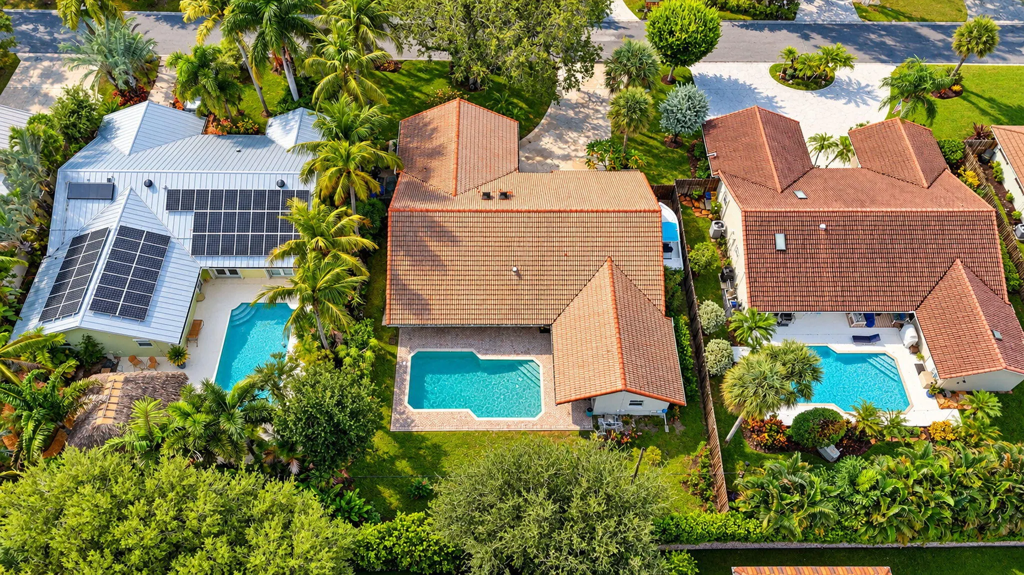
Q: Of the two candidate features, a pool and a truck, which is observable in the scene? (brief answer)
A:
pool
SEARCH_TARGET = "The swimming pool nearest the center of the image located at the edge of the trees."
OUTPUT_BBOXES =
[403,348,546,421]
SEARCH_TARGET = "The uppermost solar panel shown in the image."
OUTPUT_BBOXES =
[64,178,114,201]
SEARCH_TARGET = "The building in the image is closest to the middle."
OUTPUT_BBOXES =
[384,97,687,414]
